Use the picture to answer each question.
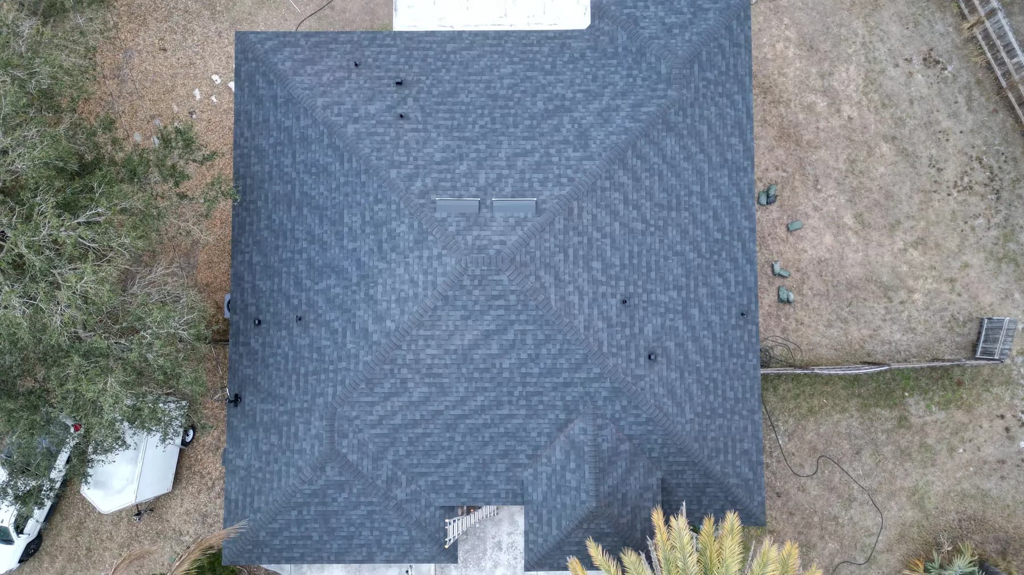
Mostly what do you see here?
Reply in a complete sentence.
Most of the picture is covered by buildings.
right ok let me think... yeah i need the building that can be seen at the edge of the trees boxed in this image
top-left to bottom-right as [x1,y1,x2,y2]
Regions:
[221,0,765,573]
